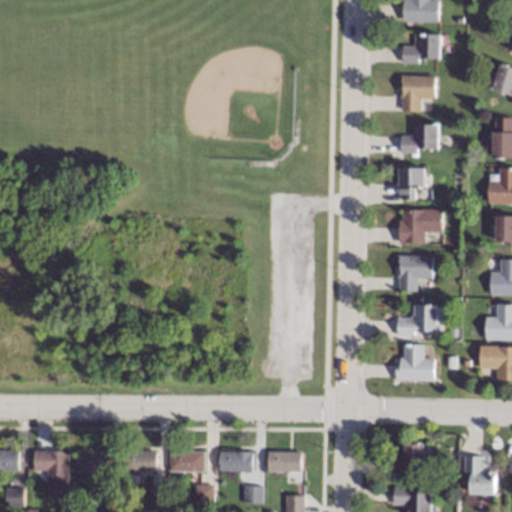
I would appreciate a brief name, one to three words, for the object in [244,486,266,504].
building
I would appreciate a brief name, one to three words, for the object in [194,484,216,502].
building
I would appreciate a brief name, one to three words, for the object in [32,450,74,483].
house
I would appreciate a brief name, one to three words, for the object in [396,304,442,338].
house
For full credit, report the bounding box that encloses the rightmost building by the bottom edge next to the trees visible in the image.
[466,456,496,497]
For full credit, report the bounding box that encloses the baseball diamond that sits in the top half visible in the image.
[186,46,284,150]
